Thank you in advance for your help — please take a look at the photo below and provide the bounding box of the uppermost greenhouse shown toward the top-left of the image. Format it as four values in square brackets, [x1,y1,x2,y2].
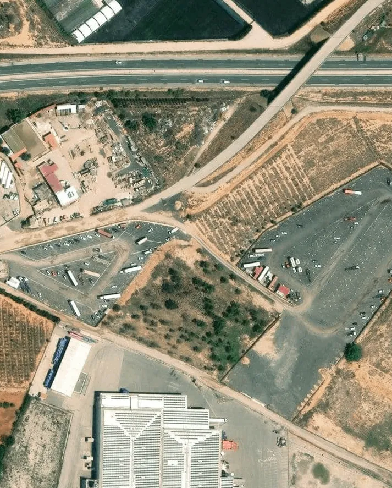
[71,0,122,43]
